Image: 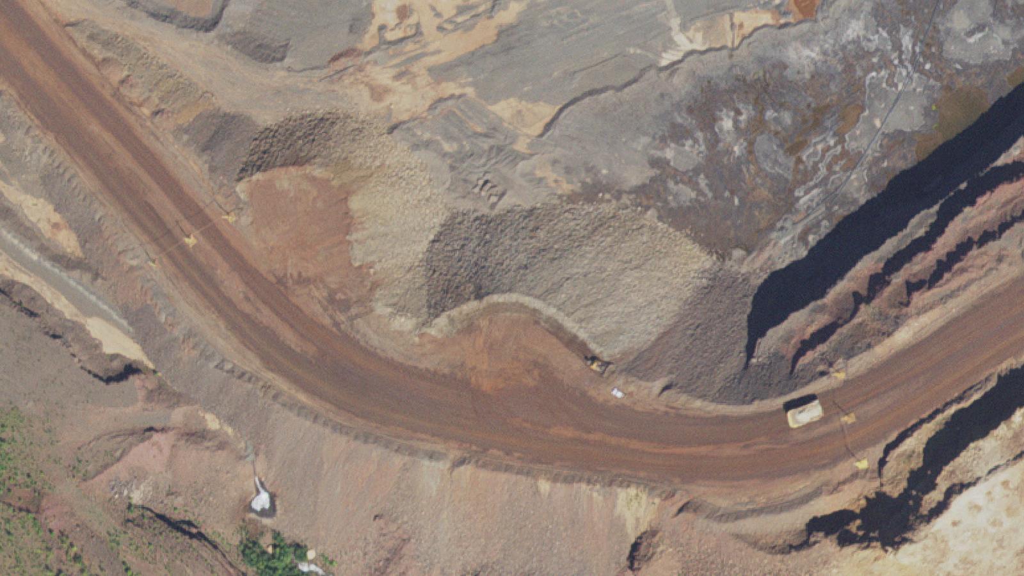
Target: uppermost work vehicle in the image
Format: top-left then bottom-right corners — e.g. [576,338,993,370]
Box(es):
[587,357,609,377]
